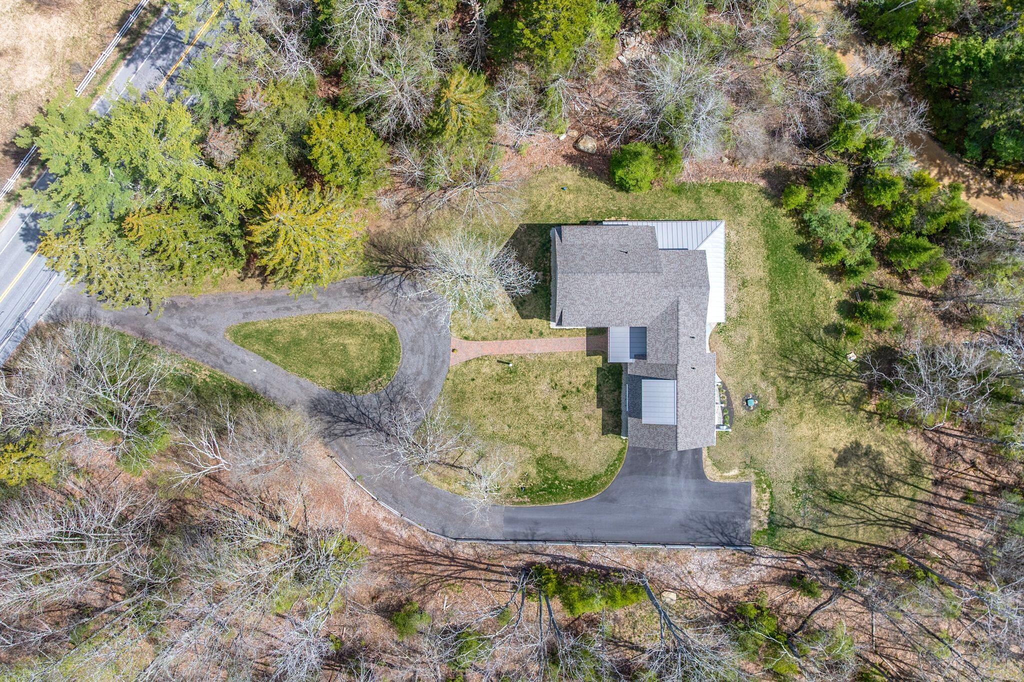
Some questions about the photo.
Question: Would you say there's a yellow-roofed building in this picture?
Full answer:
No, there isn't any yellow-roofed building down there.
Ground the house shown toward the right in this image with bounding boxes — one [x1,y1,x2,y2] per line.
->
[554,220,726,451]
